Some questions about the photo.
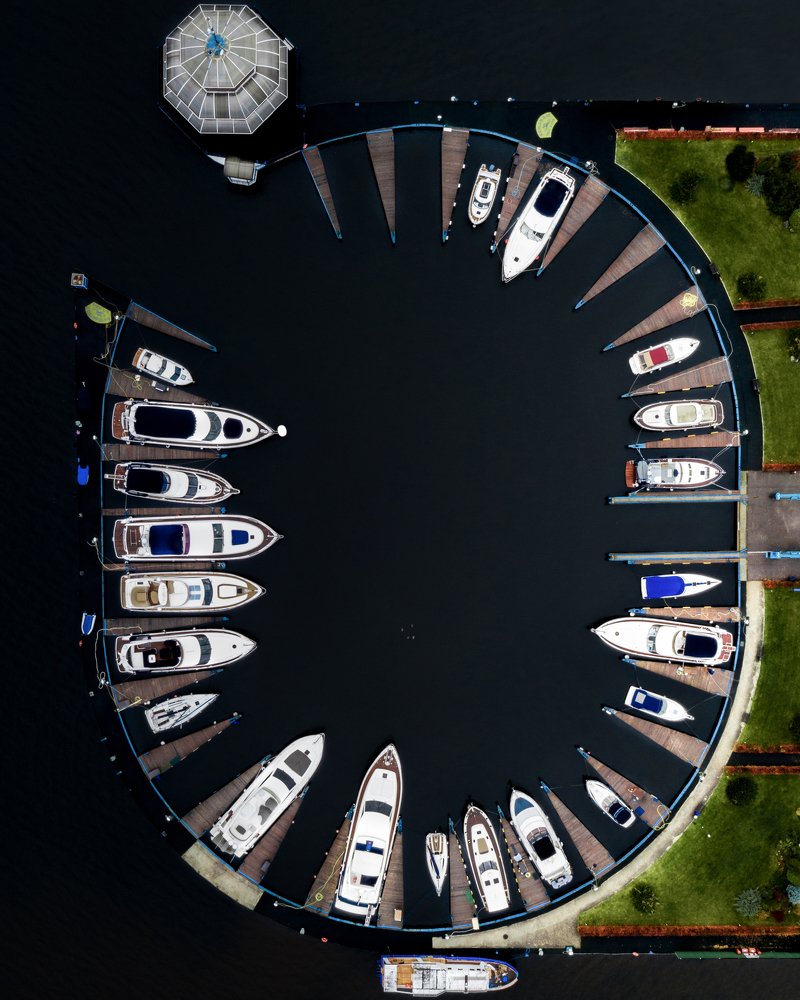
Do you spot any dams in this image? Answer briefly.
No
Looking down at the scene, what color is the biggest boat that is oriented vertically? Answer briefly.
white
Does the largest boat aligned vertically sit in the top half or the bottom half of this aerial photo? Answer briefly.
bottom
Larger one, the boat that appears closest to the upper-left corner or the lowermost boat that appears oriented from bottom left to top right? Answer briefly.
the lowermost boat that appears oriented from bottom left to top right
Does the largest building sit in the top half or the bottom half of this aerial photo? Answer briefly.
top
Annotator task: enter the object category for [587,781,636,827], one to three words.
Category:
boat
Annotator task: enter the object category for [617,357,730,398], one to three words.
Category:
pier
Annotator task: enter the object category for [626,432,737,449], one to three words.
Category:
pier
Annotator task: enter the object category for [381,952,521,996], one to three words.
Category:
vessel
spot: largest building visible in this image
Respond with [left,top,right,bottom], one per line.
[163,6,295,138]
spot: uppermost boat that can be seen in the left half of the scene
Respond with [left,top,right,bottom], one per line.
[133,349,193,387]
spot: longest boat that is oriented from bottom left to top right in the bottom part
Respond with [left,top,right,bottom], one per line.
[212,733,324,862]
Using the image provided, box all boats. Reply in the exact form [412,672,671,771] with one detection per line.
[465,805,510,912]
[120,569,268,613]
[105,463,235,503]
[336,741,401,926]
[625,455,728,490]
[592,617,736,668]
[115,626,259,673]
[630,338,702,374]
[133,349,193,387]
[469,165,501,228]
[632,397,724,433]
[503,167,574,283]
[146,694,219,733]
[426,831,449,898]
[624,687,694,722]
[511,788,572,888]
[112,397,276,451]
[212,733,324,862]
[639,570,724,599]
[112,515,281,562]
[587,781,636,827]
